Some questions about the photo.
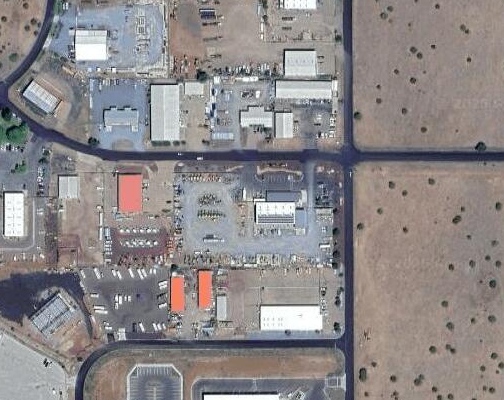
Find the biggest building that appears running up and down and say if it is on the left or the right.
left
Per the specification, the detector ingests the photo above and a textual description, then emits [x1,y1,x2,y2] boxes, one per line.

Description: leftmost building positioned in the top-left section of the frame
[22,79,61,114]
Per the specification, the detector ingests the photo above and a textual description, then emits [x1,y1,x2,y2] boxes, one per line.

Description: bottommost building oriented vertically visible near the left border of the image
[4,192,23,236]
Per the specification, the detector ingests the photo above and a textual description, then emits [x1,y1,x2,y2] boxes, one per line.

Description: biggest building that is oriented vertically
[151,84,180,141]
